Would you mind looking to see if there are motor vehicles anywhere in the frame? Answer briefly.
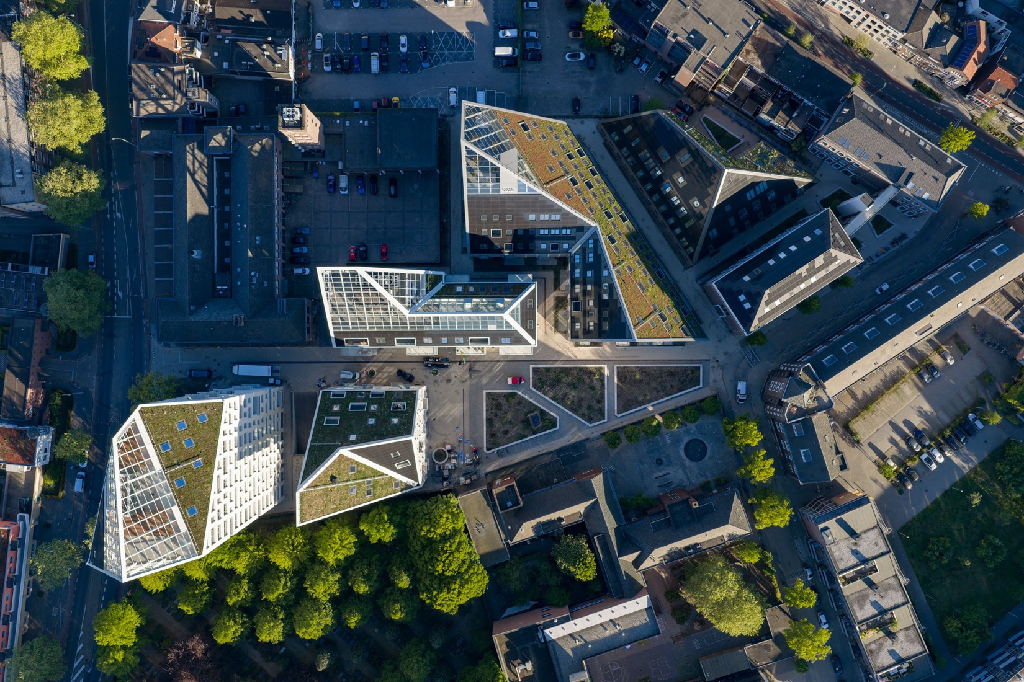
Yes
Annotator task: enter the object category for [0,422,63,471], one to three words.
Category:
house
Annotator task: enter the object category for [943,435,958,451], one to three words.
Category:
car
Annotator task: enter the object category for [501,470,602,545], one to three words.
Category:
building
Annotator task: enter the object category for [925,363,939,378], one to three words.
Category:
car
